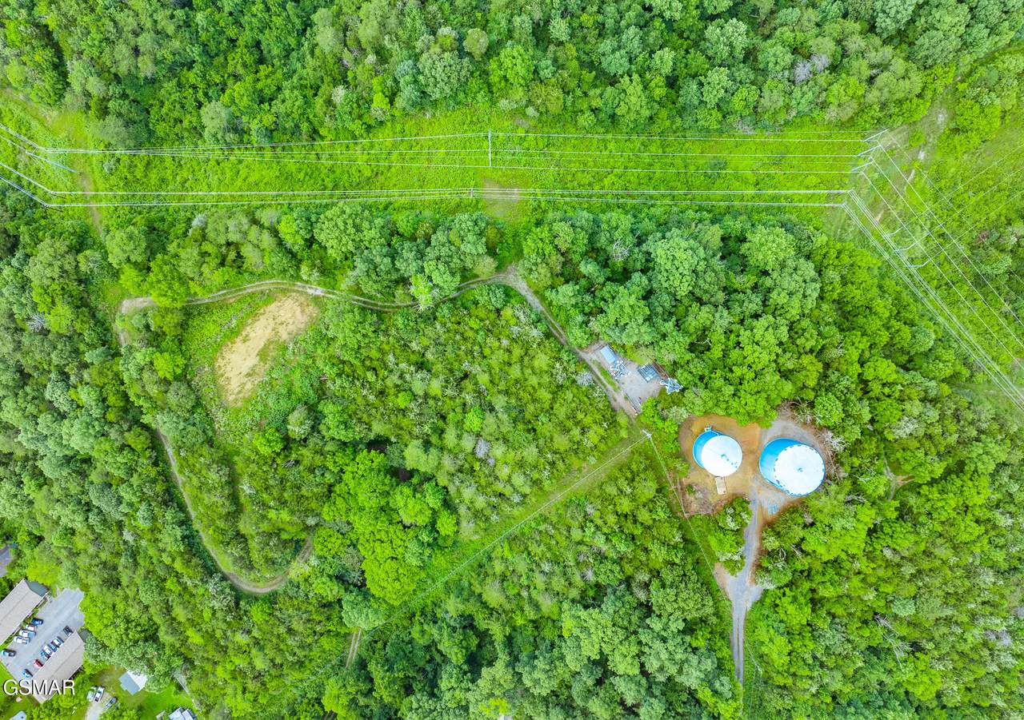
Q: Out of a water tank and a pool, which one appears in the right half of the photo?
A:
water tank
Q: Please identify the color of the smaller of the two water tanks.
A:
white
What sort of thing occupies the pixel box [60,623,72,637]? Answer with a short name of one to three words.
vehicle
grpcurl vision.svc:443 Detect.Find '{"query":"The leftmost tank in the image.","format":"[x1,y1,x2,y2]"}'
[693,429,742,476]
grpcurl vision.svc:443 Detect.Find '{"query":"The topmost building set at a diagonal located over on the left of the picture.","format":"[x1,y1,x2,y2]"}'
[0,578,52,648]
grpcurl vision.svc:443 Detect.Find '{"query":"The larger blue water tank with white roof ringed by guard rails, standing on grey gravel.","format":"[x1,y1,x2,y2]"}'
[760,438,826,495]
